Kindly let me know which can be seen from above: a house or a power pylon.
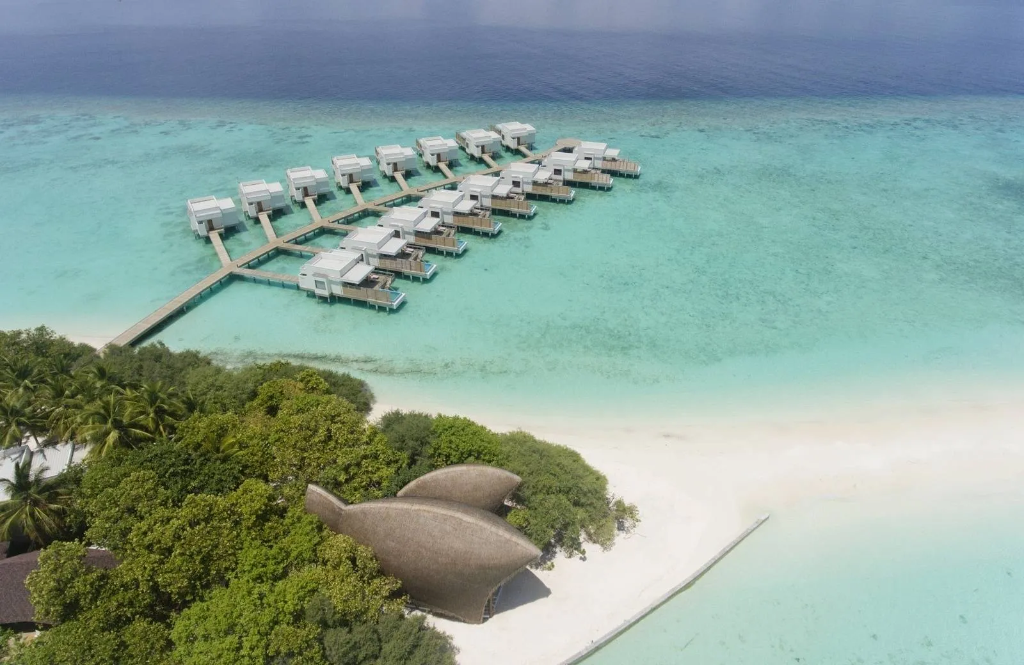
house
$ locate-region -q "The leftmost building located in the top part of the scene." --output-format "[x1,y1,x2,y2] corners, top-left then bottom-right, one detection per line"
[185,197,240,246]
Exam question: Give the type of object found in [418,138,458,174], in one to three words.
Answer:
house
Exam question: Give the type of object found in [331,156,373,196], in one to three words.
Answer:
house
